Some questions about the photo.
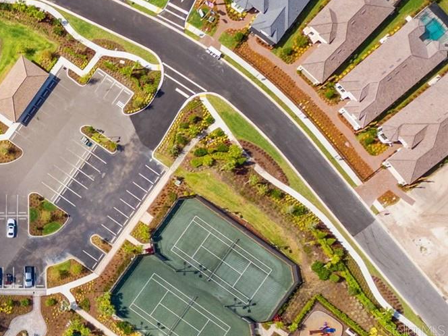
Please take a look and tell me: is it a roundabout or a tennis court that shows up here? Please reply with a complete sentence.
It is a tennis court that can be seen here.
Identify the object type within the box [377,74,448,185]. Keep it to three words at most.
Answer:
house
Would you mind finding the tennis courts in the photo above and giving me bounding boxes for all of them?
[153,196,301,321]
[113,254,255,336]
